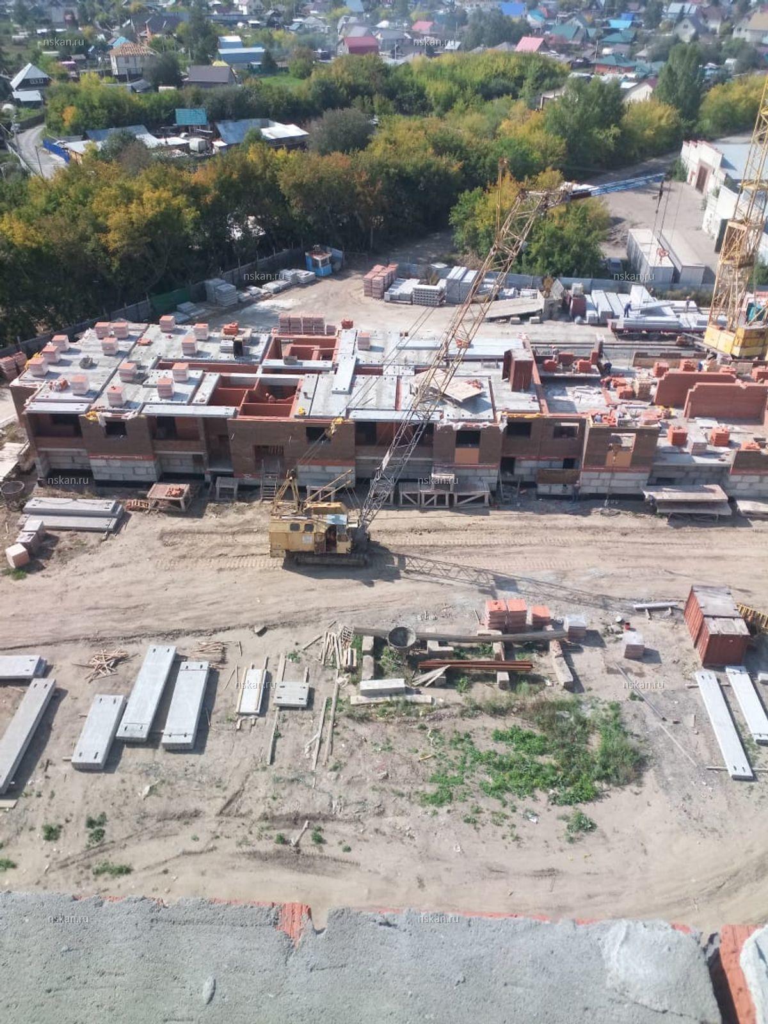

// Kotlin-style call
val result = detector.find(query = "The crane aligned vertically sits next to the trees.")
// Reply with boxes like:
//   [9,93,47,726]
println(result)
[680,92,768,357]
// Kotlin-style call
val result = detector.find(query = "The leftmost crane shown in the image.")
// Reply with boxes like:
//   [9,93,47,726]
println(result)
[267,158,668,573]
